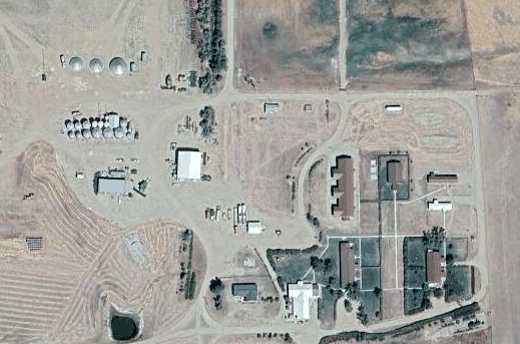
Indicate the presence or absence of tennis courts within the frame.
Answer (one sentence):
No, the scene contains no tennis court.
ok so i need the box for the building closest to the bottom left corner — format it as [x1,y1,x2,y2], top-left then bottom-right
[95,172,126,195]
